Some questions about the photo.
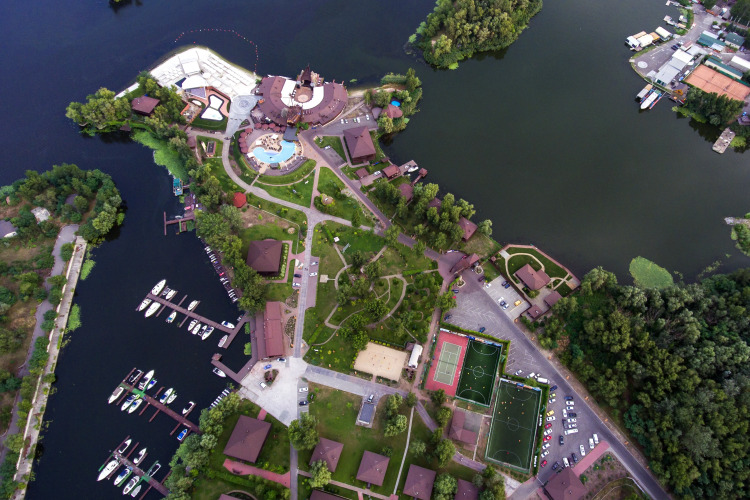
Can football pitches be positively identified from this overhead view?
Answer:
Yes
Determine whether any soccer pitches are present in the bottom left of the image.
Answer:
No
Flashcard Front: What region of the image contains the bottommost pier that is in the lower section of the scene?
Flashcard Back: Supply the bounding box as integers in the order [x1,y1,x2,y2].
[99,436,163,500]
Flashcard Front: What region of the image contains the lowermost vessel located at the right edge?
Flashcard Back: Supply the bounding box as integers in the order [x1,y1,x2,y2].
[712,127,736,154]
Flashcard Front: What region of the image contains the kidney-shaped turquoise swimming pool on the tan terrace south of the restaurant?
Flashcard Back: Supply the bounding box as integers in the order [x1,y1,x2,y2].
[249,132,304,173]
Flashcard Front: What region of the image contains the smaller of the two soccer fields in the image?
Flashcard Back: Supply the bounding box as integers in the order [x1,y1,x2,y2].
[456,336,503,406]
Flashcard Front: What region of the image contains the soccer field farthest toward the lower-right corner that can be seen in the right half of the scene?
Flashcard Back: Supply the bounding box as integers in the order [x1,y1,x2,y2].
[486,377,543,474]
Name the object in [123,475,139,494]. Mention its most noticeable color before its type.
white boat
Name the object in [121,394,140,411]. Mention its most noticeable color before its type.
white boat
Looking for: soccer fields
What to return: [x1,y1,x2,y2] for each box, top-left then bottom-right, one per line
[486,377,543,474]
[456,336,503,406]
